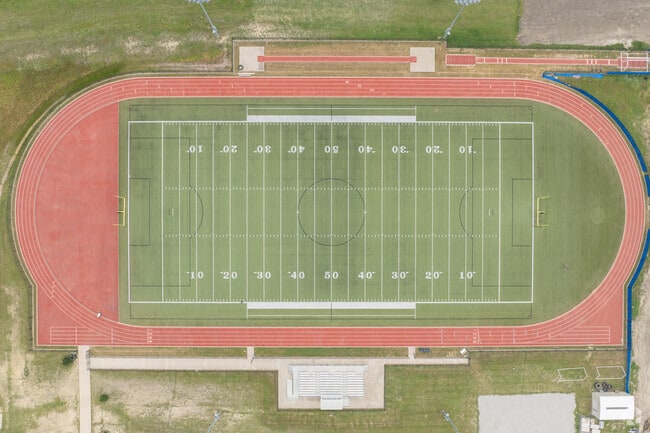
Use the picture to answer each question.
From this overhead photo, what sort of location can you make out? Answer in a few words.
sports ground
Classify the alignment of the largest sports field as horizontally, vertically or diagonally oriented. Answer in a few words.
horizontally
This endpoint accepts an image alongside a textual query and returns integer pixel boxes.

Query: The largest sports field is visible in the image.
[119,98,625,326]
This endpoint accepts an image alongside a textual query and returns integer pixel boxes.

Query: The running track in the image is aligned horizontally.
[15,77,645,347]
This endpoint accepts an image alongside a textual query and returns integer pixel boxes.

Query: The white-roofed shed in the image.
[592,392,636,420]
